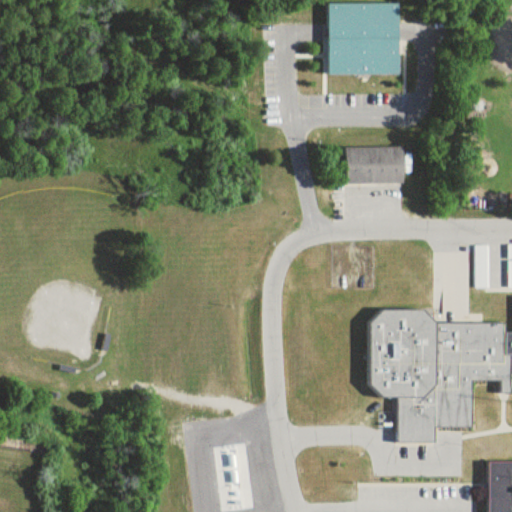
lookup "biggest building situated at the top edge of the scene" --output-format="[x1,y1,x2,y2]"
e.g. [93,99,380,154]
[328,2,401,76]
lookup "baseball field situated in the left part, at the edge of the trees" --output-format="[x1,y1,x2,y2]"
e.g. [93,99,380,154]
[0,190,120,366]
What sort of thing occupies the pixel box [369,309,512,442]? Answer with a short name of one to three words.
building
